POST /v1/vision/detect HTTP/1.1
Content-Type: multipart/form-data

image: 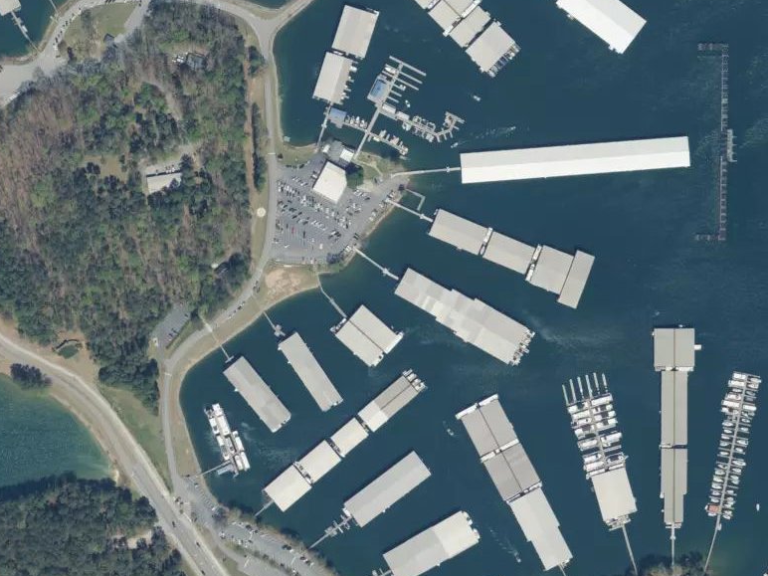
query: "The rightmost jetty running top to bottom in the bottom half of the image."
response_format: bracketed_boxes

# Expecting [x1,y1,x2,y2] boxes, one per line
[704,371,760,573]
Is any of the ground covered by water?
Yes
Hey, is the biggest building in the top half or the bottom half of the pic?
top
